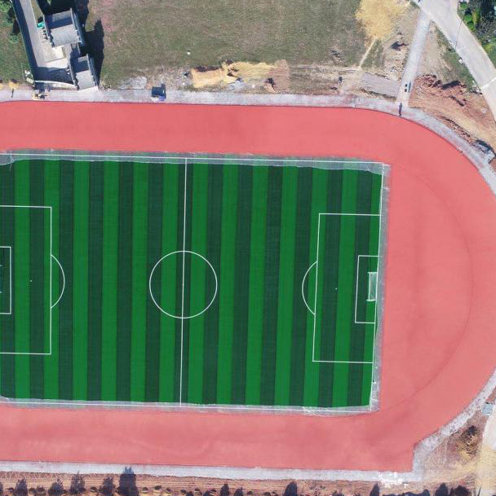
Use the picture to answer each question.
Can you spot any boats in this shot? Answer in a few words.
No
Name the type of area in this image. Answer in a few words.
sports ground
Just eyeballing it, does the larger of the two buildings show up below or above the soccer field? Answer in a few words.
above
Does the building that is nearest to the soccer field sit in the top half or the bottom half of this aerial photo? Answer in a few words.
top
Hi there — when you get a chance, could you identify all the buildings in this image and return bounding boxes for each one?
[69,52,99,94]
[45,6,85,53]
